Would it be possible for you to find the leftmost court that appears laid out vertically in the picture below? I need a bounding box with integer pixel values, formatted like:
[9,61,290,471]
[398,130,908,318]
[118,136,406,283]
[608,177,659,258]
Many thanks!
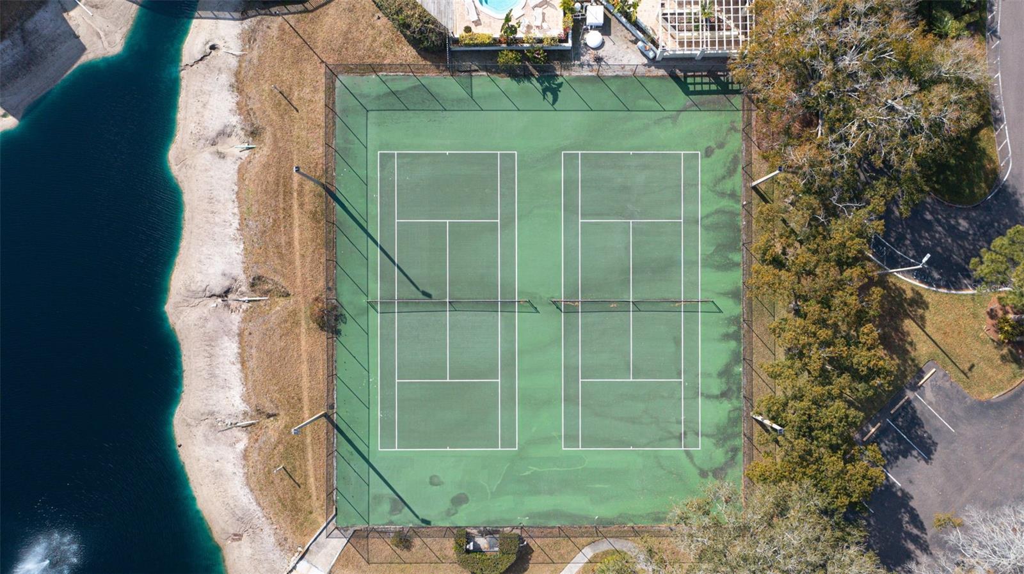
[379,151,517,450]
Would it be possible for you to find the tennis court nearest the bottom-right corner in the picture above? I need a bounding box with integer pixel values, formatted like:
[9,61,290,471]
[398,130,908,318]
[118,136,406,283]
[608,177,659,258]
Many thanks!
[561,150,702,451]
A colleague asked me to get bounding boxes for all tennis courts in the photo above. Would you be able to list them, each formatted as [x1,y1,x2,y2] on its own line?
[561,150,702,451]
[379,151,517,450]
